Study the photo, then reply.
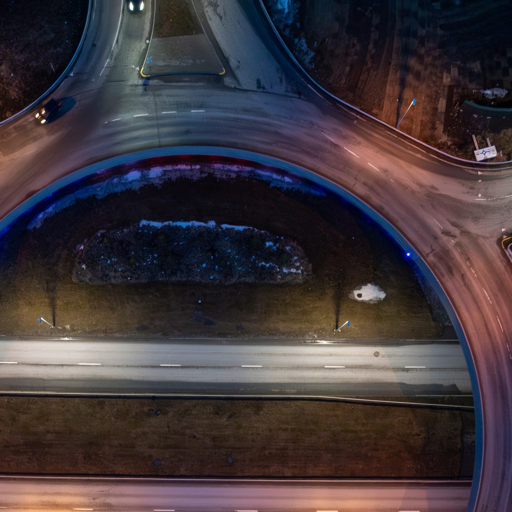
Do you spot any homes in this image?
No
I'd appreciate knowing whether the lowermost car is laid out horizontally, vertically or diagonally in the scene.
diagonally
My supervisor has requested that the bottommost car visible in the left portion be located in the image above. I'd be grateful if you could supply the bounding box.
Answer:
[34,94,64,125]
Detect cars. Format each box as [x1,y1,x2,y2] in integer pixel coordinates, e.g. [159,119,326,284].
[34,94,64,125]
[129,0,143,10]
